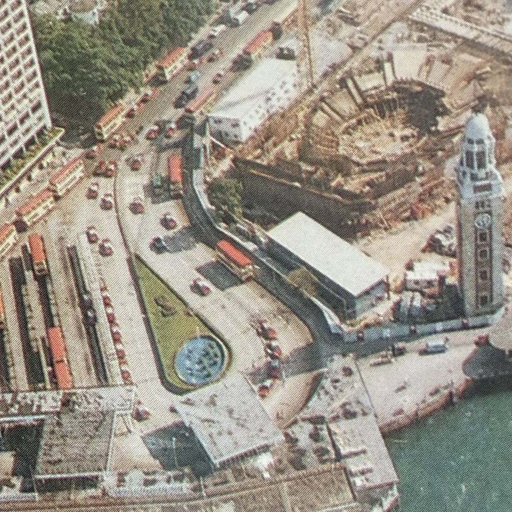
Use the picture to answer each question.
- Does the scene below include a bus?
Yes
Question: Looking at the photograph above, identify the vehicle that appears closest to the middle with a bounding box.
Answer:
[214,246,258,282]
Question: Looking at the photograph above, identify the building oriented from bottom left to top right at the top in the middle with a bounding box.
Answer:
[206,40,317,143]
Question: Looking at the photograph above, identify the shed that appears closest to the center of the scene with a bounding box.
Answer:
[267,211,389,310]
